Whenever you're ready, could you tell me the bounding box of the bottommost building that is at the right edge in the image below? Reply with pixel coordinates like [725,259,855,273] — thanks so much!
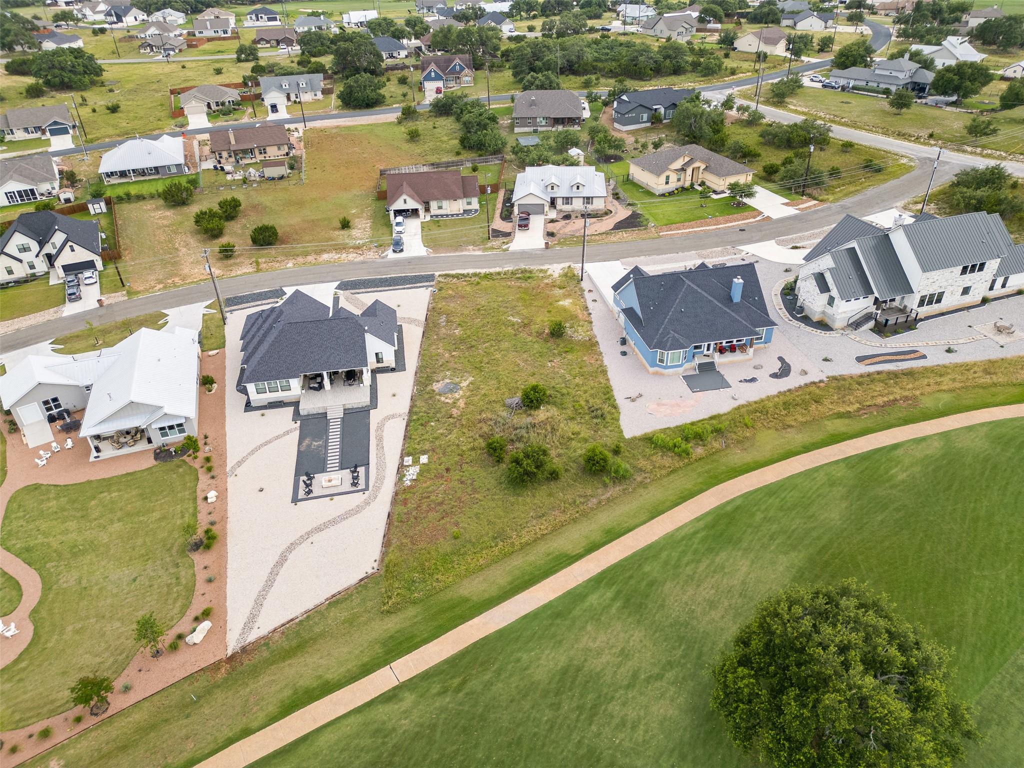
[792,206,1024,333]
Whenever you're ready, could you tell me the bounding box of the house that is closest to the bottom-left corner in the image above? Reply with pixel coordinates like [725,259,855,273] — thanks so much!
[7,319,204,461]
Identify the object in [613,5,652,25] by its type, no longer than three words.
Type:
house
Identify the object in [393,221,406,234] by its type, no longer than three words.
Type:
vehicle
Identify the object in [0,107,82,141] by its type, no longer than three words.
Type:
house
